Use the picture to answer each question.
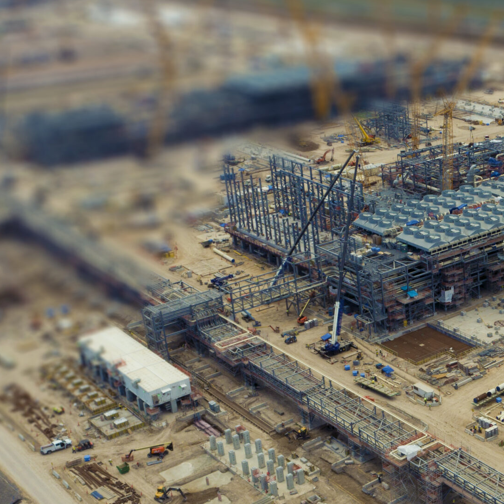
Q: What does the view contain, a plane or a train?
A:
train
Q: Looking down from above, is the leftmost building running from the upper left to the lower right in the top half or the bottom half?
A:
bottom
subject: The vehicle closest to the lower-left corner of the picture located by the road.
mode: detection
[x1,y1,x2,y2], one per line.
[41,439,70,453]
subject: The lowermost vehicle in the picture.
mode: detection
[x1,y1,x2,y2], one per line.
[152,480,196,502]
